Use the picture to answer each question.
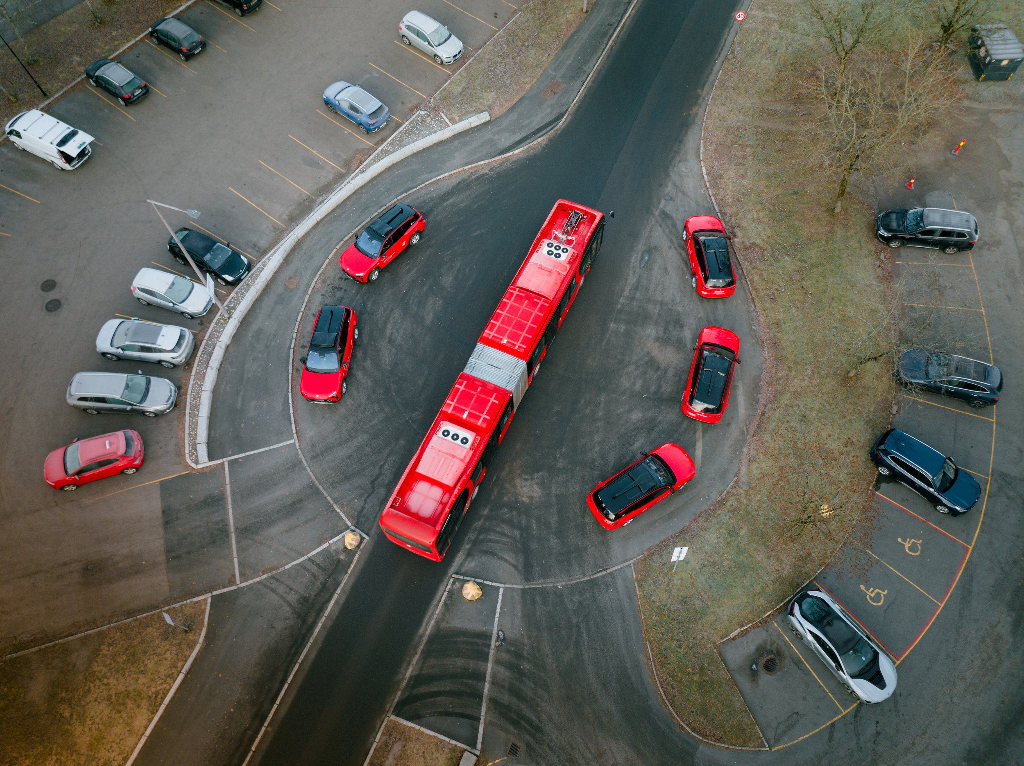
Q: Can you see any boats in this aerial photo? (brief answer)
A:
No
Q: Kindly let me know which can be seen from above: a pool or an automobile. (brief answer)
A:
automobile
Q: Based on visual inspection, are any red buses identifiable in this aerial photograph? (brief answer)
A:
Yes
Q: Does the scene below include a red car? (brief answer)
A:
Yes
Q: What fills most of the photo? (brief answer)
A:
paved ground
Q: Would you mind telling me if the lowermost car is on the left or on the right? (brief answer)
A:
right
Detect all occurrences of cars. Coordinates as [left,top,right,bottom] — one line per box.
[400,10,466,64]
[42,431,144,491]
[298,308,358,412]
[325,83,393,134]
[869,428,987,519]
[63,369,176,417]
[684,215,739,303]
[878,205,980,254]
[586,443,701,530]
[94,315,196,368]
[148,17,210,61]
[336,204,425,289]
[219,0,266,15]
[167,228,252,286]
[126,265,218,319]
[895,347,1011,408]
[85,58,150,106]
[681,325,741,427]
[788,592,906,714]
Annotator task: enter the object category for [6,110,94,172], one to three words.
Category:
van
